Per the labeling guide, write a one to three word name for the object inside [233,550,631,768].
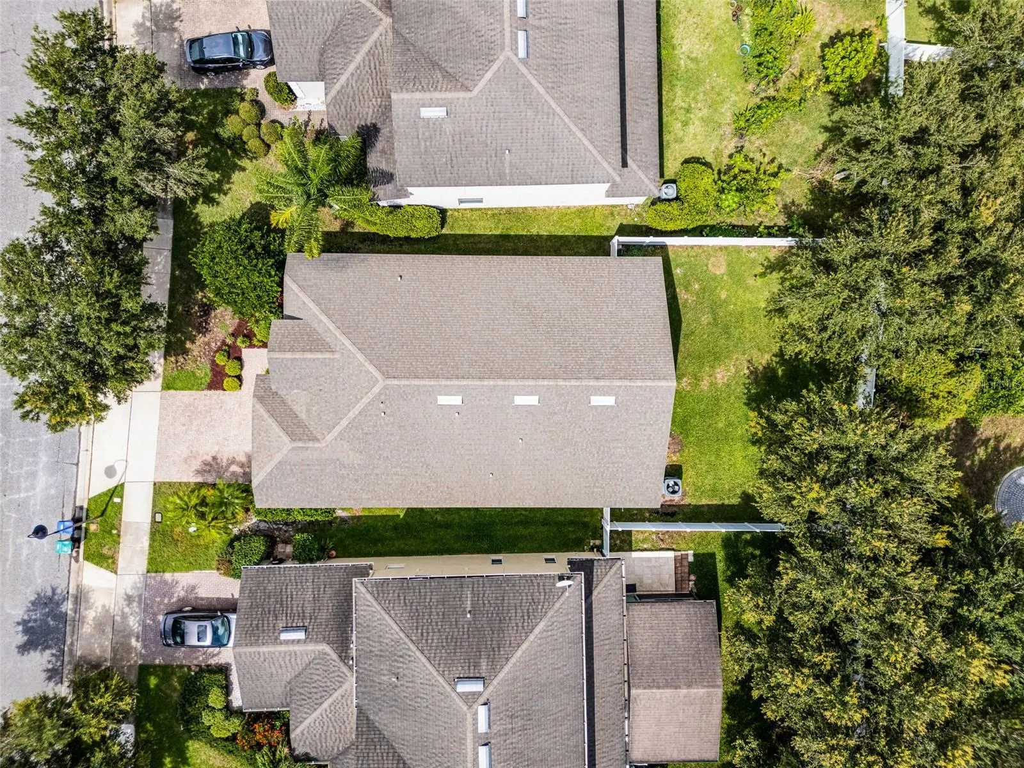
house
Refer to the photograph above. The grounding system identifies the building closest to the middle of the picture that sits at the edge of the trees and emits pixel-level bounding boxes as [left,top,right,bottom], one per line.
[251,254,676,508]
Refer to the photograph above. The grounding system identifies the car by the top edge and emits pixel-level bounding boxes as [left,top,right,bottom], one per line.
[184,25,276,77]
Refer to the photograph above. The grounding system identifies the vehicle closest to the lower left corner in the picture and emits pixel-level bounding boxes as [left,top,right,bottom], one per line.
[161,608,238,652]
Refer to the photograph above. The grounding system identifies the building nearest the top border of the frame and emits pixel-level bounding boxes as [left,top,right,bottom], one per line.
[267,0,660,207]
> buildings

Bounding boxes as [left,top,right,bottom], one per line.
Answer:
[267,0,660,207]
[251,254,676,508]
[233,550,631,768]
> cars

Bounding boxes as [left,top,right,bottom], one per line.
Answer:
[184,25,276,77]
[161,608,238,652]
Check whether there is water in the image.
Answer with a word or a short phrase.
No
